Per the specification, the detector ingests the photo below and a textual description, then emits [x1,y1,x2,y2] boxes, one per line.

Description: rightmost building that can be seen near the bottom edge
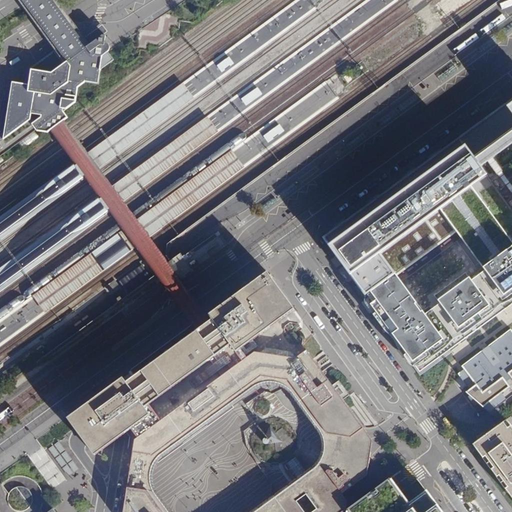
[471,414,512,499]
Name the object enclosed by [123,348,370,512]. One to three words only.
building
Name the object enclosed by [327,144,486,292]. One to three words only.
building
